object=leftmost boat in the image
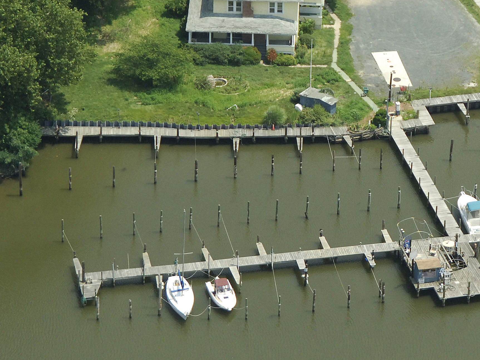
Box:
[163,207,192,322]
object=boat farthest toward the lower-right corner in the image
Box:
[456,190,480,235]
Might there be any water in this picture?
Yes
